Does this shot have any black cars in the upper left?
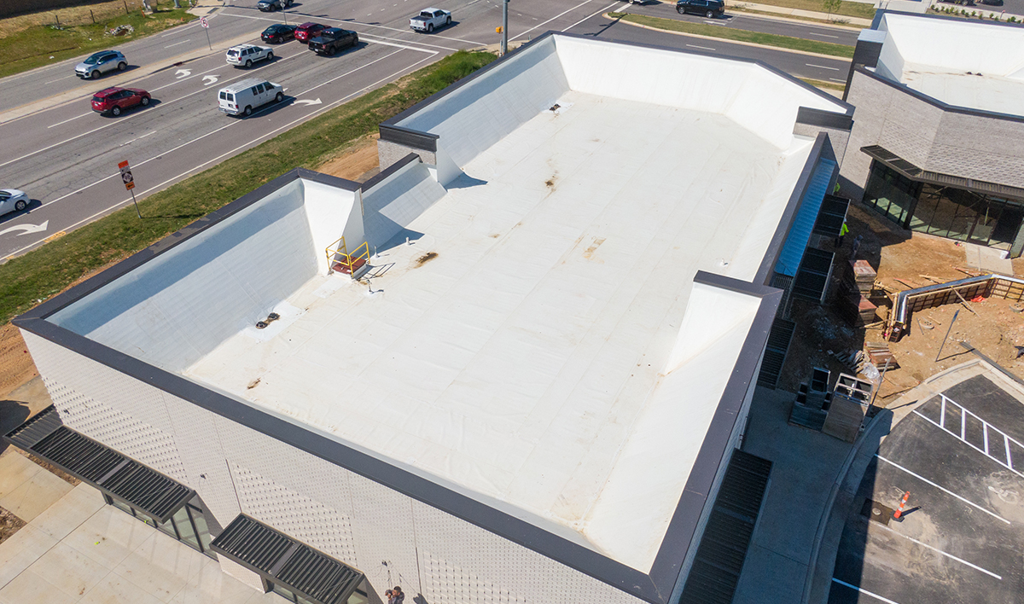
Yes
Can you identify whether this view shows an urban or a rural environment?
urban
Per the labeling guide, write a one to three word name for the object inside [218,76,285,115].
van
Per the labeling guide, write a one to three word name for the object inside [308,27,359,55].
truck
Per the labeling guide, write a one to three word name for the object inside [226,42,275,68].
car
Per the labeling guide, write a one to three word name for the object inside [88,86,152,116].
car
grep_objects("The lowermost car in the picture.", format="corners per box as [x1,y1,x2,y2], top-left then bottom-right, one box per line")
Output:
[0,188,32,216]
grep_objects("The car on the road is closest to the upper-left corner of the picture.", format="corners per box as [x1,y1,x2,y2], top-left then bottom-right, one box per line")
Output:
[71,48,128,79]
